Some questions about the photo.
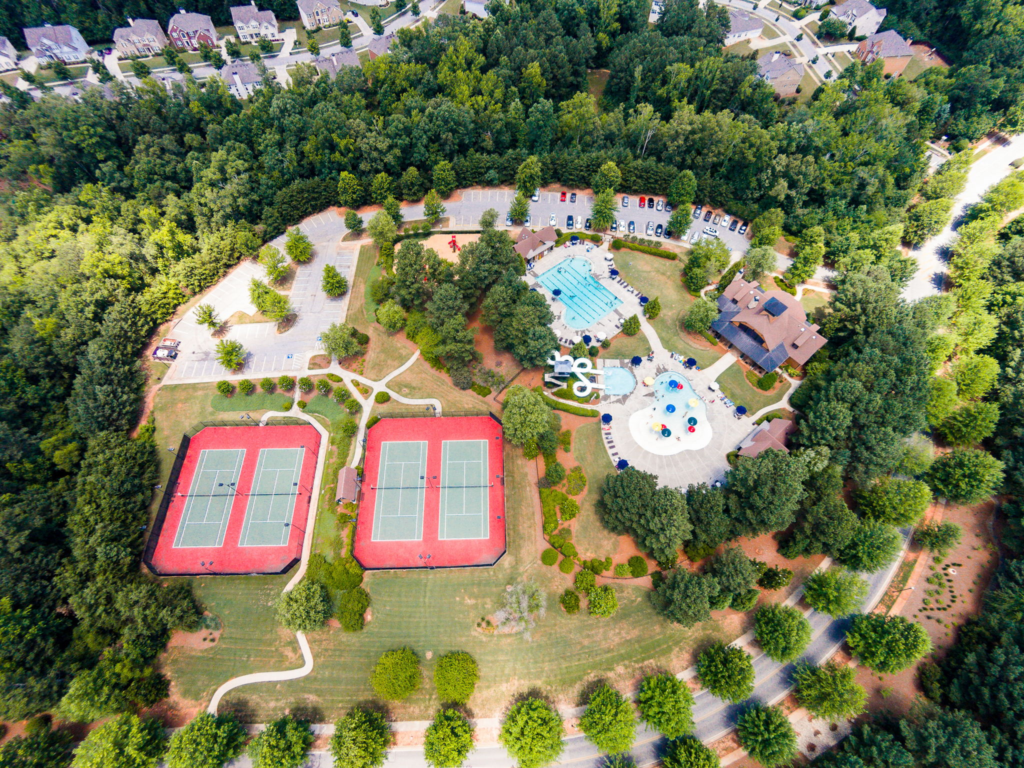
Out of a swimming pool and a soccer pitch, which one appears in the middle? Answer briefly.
swimming pool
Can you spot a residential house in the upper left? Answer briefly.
Yes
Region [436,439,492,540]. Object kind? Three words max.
tennis court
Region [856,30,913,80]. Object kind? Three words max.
house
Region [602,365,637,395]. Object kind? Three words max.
swimming pool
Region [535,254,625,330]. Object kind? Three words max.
swimming pool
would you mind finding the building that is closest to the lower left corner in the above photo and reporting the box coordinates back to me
[334,467,361,505]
